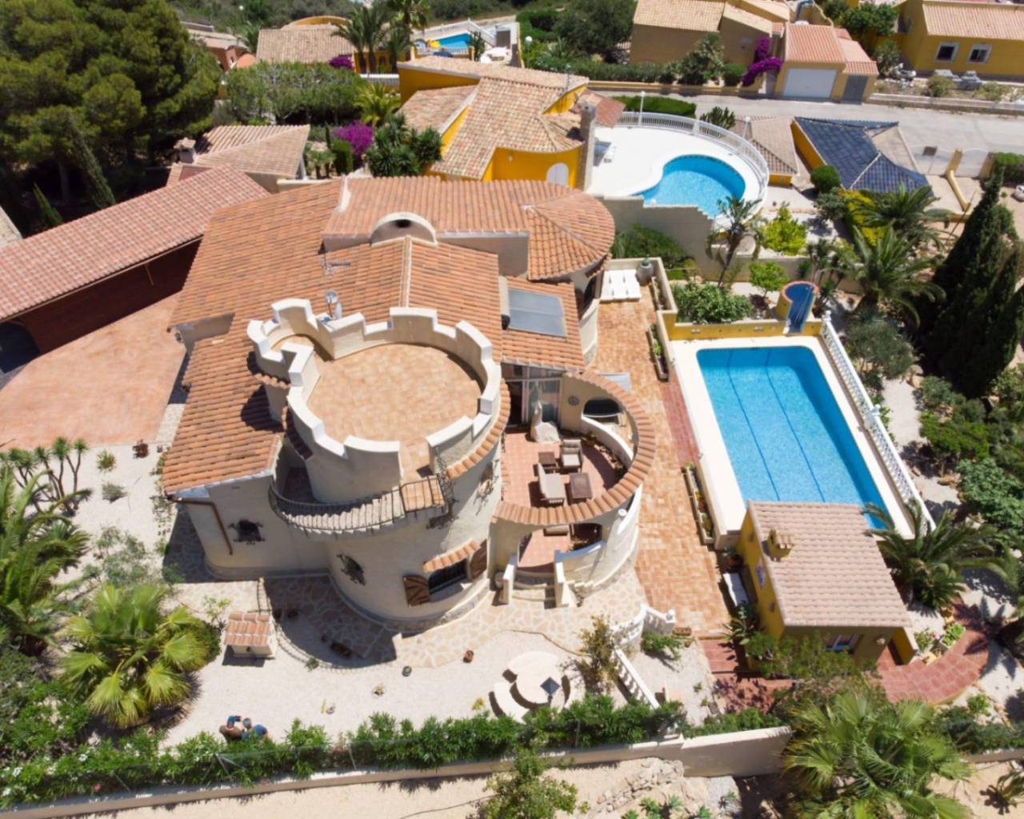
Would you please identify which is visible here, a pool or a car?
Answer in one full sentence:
There is a pool in the scene.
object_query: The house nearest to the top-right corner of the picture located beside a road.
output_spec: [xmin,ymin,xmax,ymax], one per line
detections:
[859,0,1024,85]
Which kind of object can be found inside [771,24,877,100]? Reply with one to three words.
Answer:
building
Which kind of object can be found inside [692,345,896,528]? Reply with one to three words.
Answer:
swimming pool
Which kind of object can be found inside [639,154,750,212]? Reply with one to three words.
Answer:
swimming pool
